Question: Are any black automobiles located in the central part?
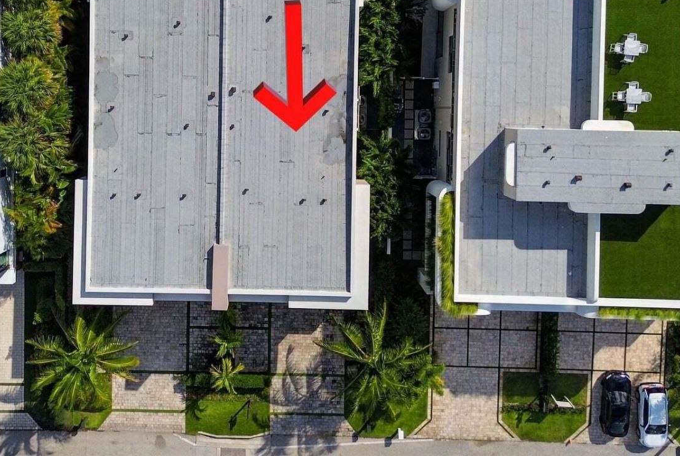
No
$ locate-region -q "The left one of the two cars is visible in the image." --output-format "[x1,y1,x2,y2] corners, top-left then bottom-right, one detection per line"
[598,368,637,443]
